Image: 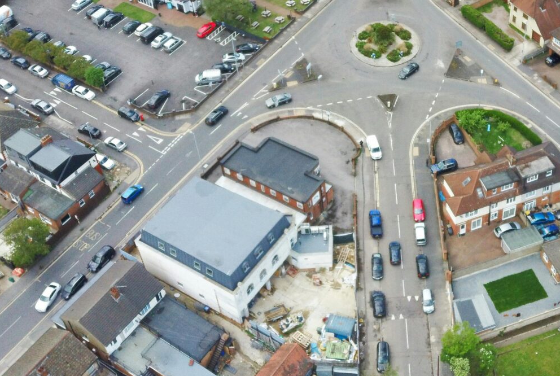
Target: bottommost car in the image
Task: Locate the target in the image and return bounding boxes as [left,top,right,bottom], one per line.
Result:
[376,342,390,373]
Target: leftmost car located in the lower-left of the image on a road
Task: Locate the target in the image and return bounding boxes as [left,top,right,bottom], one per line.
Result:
[35,284,62,311]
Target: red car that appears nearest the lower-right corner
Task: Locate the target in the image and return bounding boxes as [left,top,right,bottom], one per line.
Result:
[413,199,426,222]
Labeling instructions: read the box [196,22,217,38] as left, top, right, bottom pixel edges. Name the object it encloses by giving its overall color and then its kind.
red car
